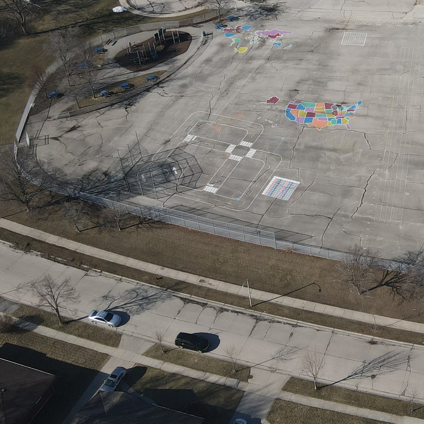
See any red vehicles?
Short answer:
No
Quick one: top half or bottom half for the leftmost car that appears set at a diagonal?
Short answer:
bottom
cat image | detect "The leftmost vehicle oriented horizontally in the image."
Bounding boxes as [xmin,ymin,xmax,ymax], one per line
[86,310,122,327]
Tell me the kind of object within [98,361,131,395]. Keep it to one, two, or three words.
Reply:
car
